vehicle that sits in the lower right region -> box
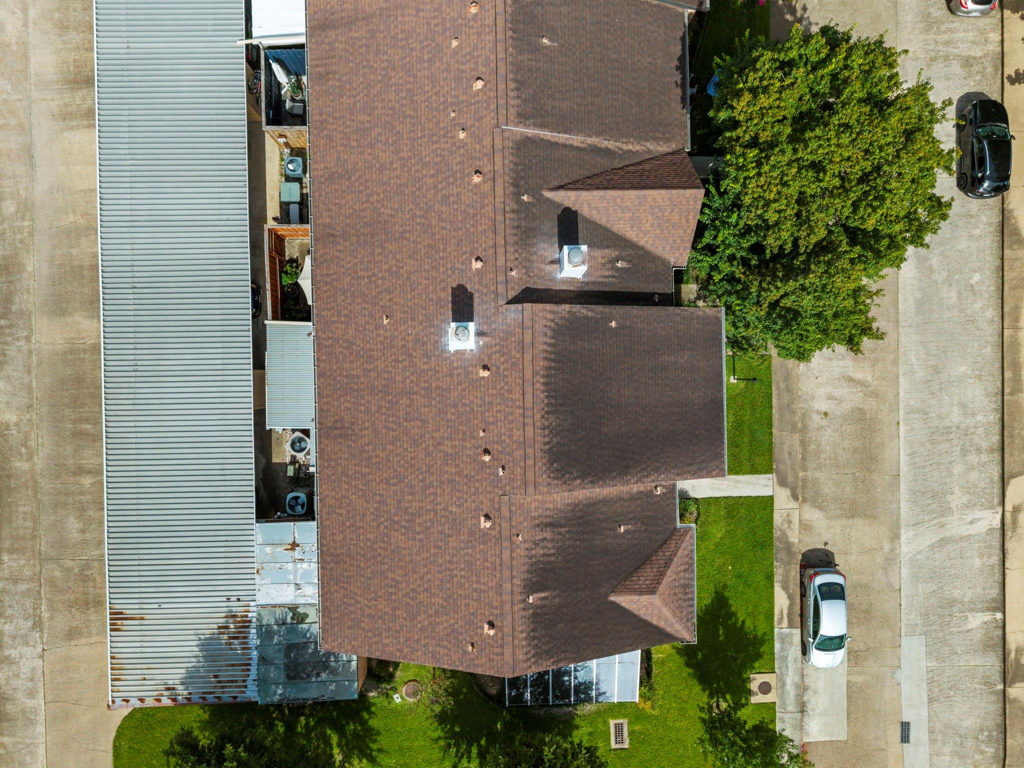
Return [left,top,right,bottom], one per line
[800,565,852,667]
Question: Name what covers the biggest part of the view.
buildings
